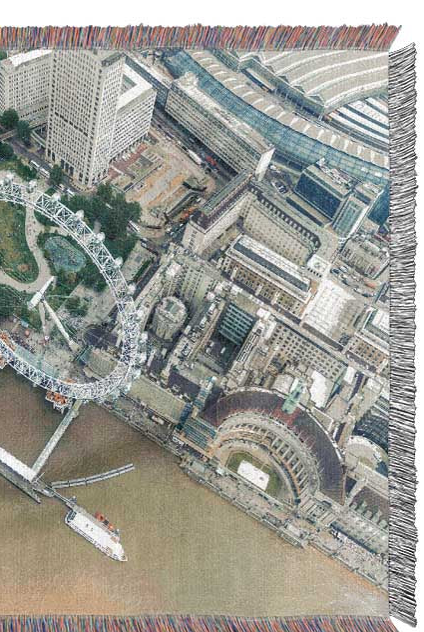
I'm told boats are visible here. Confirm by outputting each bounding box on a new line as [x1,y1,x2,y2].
[64,505,127,561]
[94,510,115,531]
